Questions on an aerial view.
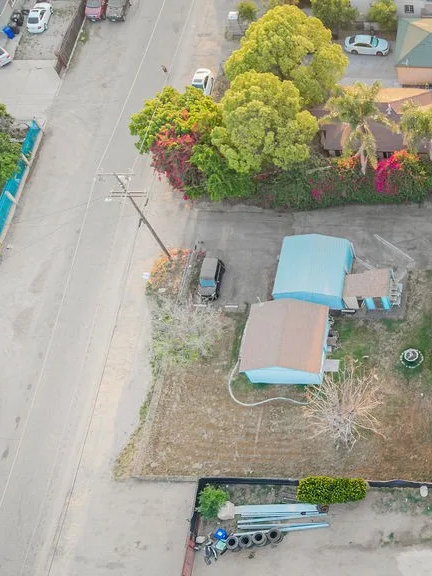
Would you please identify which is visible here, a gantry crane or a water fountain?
water fountain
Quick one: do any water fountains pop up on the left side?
No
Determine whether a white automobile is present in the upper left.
Yes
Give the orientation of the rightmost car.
from side to side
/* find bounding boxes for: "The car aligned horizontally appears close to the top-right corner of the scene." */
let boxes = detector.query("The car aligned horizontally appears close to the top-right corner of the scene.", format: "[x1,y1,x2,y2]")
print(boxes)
[343,35,389,57]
